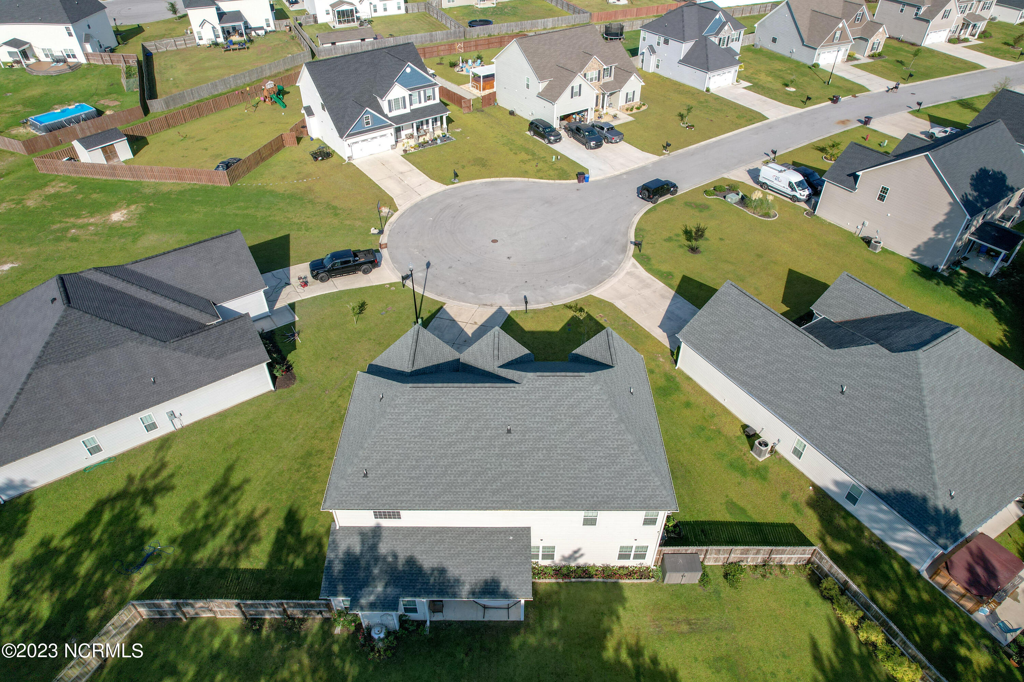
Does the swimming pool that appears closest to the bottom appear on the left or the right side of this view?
left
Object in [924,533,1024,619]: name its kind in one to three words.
gazebo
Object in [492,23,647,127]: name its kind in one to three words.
house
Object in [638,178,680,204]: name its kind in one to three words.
car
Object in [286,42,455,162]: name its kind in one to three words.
house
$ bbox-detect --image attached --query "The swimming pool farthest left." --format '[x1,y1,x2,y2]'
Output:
[29,102,100,134]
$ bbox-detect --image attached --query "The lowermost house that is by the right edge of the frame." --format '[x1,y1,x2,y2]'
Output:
[669,270,1024,573]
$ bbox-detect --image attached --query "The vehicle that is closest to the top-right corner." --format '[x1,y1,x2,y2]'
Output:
[921,121,949,140]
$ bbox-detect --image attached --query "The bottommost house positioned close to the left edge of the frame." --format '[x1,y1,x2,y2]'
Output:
[0,229,281,505]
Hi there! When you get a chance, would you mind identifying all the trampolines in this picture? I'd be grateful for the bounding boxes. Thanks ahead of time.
[603,23,626,43]
[468,19,493,28]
